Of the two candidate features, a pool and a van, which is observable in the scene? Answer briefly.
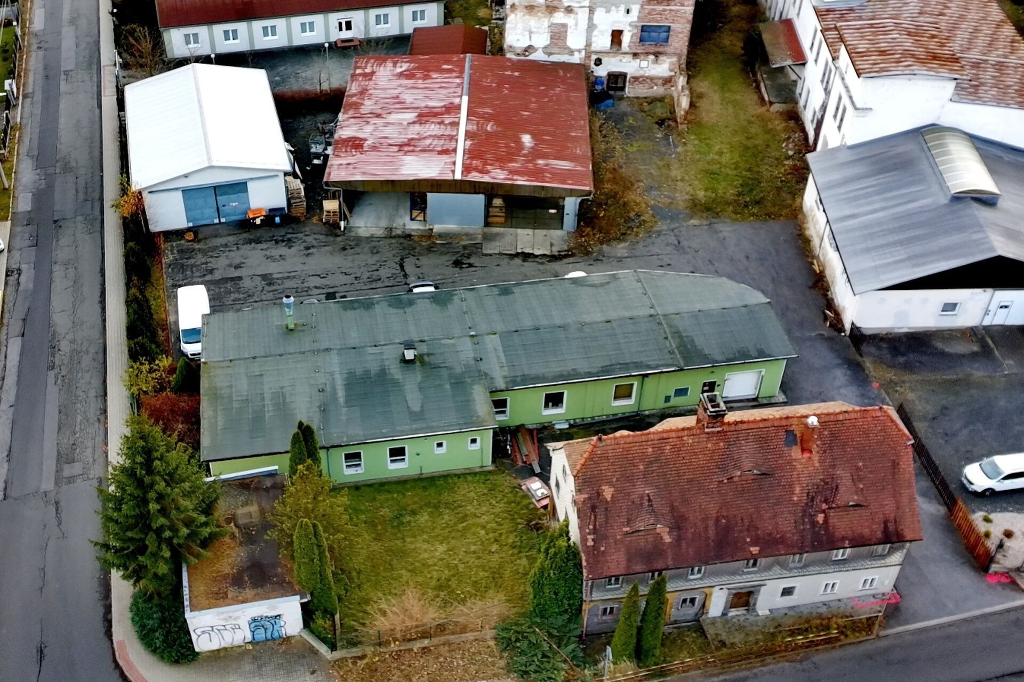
van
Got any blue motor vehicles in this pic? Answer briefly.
No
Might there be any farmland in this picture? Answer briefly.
No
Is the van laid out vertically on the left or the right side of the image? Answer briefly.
left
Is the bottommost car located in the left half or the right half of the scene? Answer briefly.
right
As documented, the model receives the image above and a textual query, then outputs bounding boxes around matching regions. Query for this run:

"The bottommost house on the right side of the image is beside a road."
[545,396,926,634]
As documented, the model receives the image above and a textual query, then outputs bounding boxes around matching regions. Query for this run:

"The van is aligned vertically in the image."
[173,289,214,364]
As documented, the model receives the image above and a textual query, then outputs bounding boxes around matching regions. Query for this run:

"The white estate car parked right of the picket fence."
[963,450,1024,496]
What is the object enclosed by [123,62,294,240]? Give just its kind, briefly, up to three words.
barn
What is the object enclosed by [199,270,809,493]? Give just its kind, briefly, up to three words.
building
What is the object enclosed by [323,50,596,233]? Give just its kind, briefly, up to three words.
shed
